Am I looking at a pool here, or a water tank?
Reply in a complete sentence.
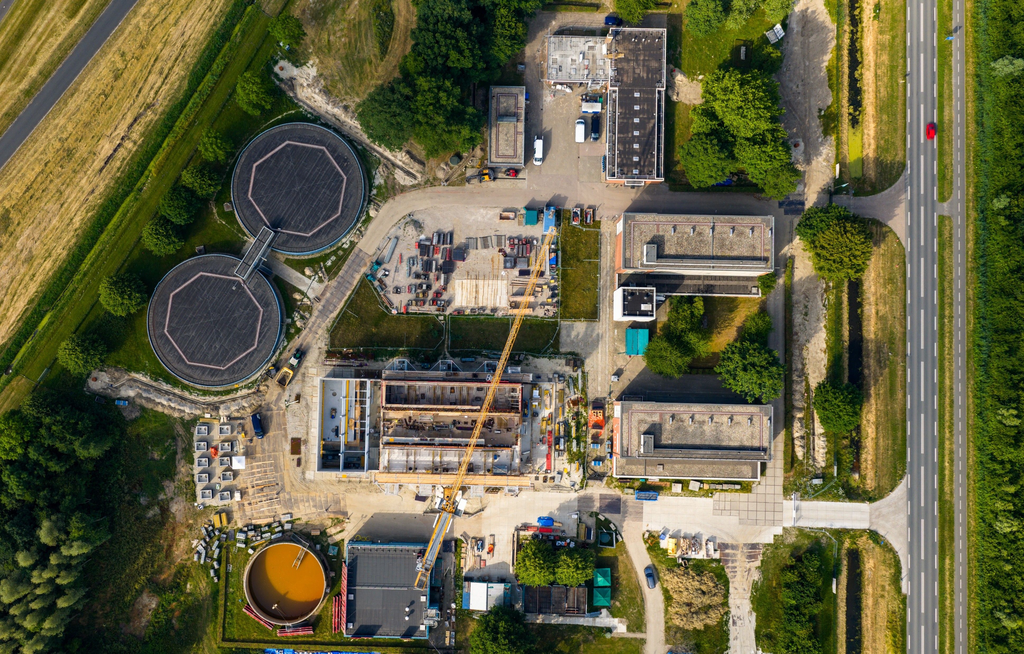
It is a water tank that can be seen here.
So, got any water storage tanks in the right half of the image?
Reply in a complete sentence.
No, I can find no water storage tank in the right half of the image.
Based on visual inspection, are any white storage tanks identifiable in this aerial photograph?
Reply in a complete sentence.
No, there is no white storage tank in the image.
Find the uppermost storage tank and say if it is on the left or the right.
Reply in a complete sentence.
The uppermost storage tank is on the left side of the image.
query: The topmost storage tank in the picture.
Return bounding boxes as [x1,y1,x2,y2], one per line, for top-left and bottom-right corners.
[231,121,369,258]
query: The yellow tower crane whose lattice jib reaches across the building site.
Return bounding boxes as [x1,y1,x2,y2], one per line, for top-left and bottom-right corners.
[417,228,558,591]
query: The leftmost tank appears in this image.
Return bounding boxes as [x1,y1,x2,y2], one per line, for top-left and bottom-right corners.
[147,252,286,389]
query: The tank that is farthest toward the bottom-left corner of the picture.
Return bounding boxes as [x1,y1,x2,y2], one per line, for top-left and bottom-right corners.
[244,534,329,631]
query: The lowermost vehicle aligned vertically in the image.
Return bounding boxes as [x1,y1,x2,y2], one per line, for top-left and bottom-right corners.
[643,566,655,589]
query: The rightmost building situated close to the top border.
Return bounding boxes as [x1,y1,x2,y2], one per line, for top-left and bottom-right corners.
[602,28,666,188]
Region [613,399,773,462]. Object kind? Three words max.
building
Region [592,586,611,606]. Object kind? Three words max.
tent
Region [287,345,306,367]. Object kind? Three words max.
work vehicle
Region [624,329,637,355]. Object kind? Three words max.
shed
